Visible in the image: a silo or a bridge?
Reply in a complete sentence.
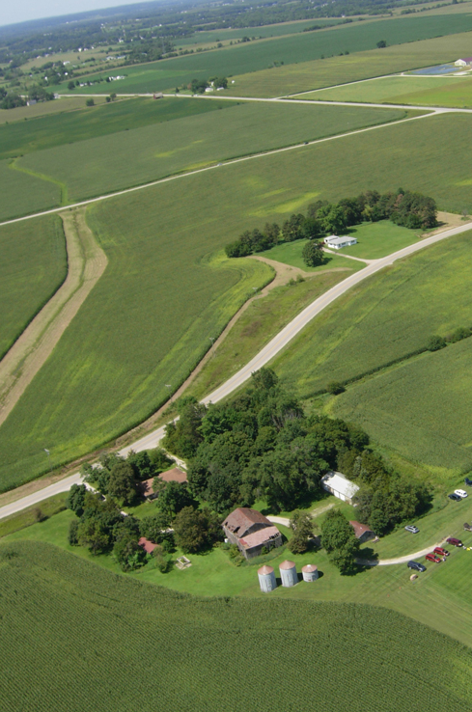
It is a silo that can be seen here.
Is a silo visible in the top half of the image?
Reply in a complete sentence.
No, there's no silo to be seen in the top half of the image.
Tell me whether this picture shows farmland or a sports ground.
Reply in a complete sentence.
The area seen from above is farmland.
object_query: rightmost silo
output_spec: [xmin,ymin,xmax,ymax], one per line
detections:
[300,563,320,584]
